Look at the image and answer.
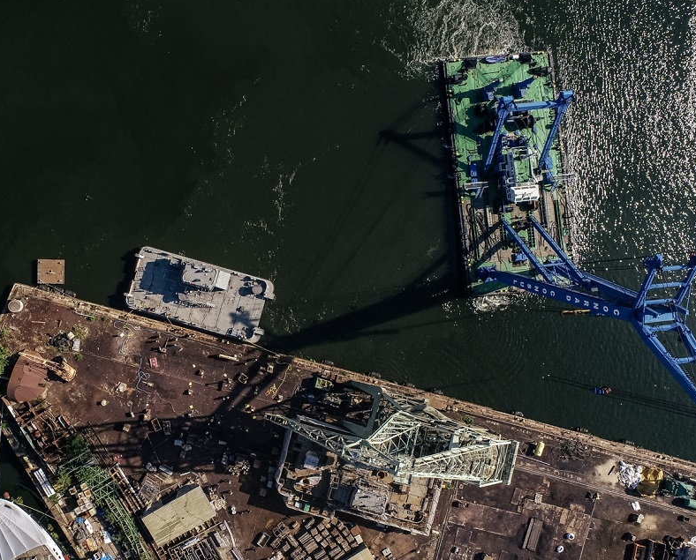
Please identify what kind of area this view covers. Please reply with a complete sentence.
This image shows a port.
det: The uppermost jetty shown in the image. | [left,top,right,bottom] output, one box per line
[38,260,65,284]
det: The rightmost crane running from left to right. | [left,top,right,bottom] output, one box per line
[259,378,522,497]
